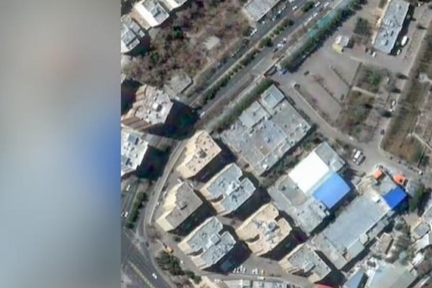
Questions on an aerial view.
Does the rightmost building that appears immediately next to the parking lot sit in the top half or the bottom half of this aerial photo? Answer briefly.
top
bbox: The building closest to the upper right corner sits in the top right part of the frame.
[371,0,410,55]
